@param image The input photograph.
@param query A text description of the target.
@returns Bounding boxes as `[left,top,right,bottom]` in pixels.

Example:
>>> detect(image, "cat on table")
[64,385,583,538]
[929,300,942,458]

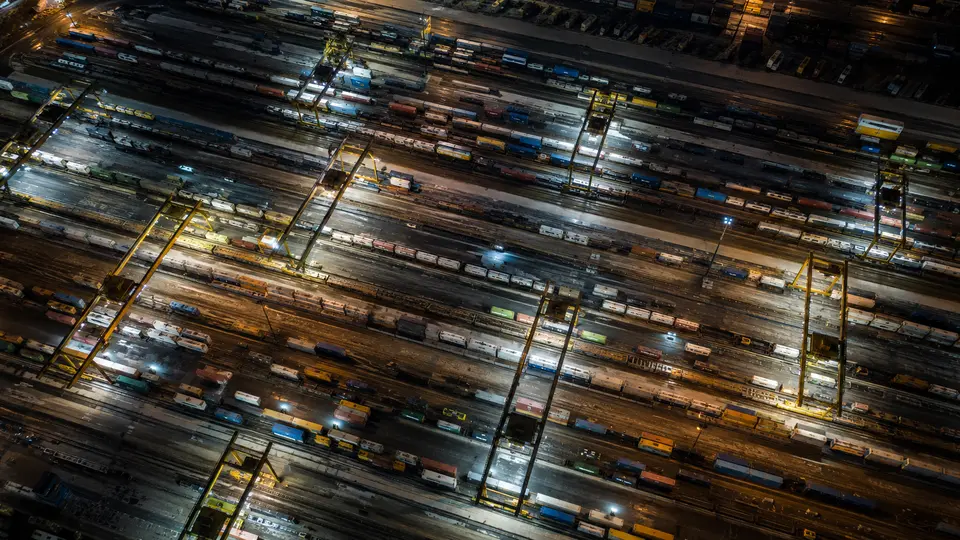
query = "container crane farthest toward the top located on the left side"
[292,33,360,131]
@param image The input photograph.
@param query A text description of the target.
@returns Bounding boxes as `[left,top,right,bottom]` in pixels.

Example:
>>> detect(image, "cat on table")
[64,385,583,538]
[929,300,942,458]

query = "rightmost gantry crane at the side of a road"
[854,160,908,266]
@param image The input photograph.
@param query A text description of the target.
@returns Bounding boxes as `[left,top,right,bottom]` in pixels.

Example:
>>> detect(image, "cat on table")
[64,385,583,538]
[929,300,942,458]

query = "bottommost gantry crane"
[176,431,283,540]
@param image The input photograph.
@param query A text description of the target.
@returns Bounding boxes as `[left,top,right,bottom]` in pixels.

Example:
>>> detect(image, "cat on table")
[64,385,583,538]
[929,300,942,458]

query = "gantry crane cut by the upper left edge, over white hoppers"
[0,76,112,199]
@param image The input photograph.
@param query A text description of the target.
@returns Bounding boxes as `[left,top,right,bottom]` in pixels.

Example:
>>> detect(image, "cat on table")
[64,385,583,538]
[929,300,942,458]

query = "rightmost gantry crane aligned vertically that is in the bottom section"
[775,250,849,420]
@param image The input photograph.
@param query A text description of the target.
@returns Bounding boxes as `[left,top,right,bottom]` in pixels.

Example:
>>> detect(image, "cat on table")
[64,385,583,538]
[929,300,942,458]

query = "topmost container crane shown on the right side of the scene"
[562,88,620,195]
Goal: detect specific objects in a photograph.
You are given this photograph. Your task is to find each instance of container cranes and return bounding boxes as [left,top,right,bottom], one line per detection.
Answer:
[474,286,582,516]
[36,193,218,391]
[0,76,112,199]
[775,250,849,420]
[292,33,360,131]
[854,160,908,266]
[271,131,376,276]
[562,88,620,195]
[176,431,283,540]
